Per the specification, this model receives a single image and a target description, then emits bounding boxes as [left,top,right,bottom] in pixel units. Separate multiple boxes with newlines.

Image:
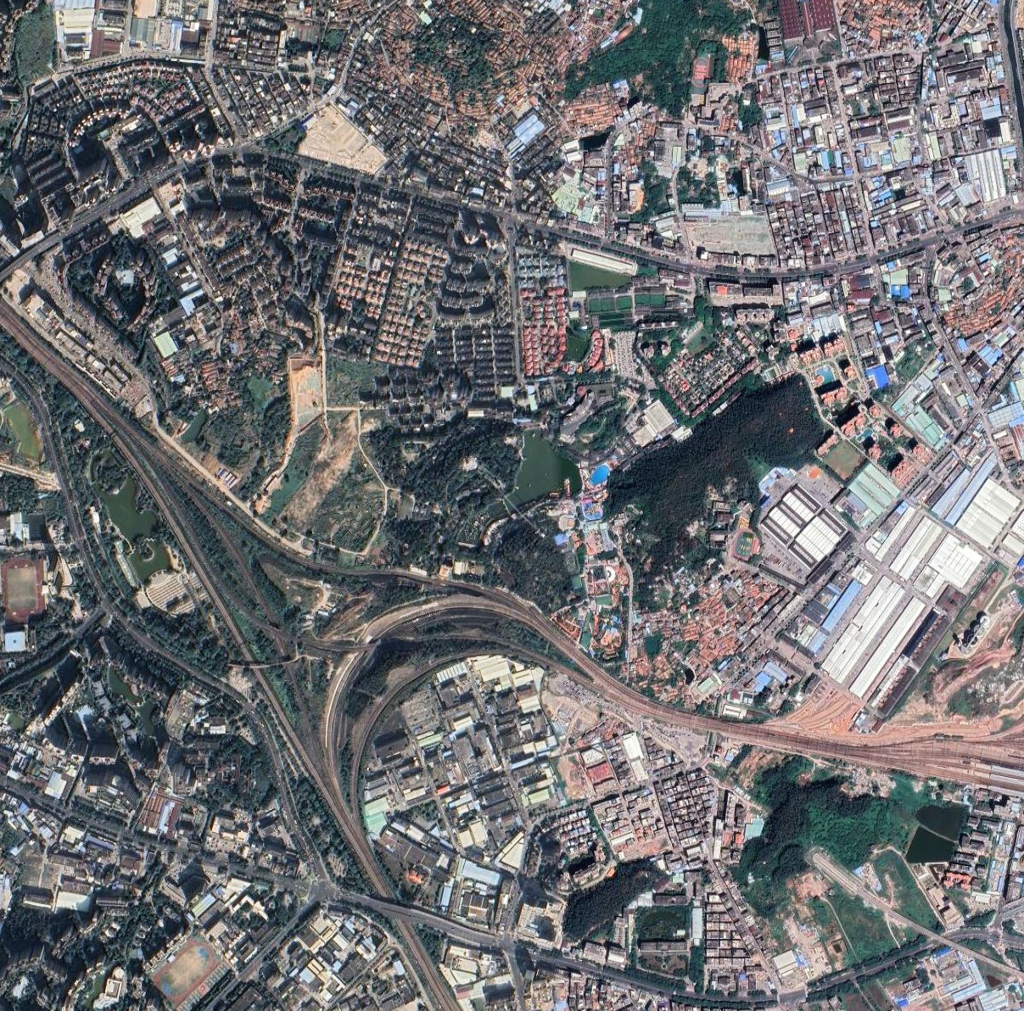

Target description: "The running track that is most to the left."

[0,561,45,620]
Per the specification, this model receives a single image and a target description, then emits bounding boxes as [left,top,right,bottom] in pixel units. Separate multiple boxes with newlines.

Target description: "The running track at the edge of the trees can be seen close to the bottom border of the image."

[145,934,231,1010]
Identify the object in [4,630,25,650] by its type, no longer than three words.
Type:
building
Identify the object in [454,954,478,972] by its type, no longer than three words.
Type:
shed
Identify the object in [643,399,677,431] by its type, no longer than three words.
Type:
shed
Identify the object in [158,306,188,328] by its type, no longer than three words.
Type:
building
